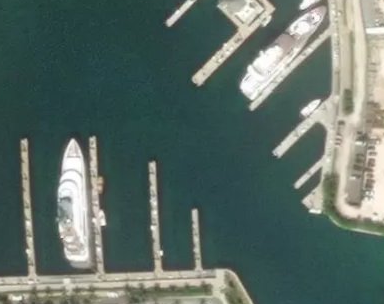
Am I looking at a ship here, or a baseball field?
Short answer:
ship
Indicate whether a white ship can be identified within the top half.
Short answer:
Yes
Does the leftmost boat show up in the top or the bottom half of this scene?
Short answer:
bottom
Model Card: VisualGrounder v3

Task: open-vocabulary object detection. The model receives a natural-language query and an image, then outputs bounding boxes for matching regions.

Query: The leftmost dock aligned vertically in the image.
[21,138,37,273]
